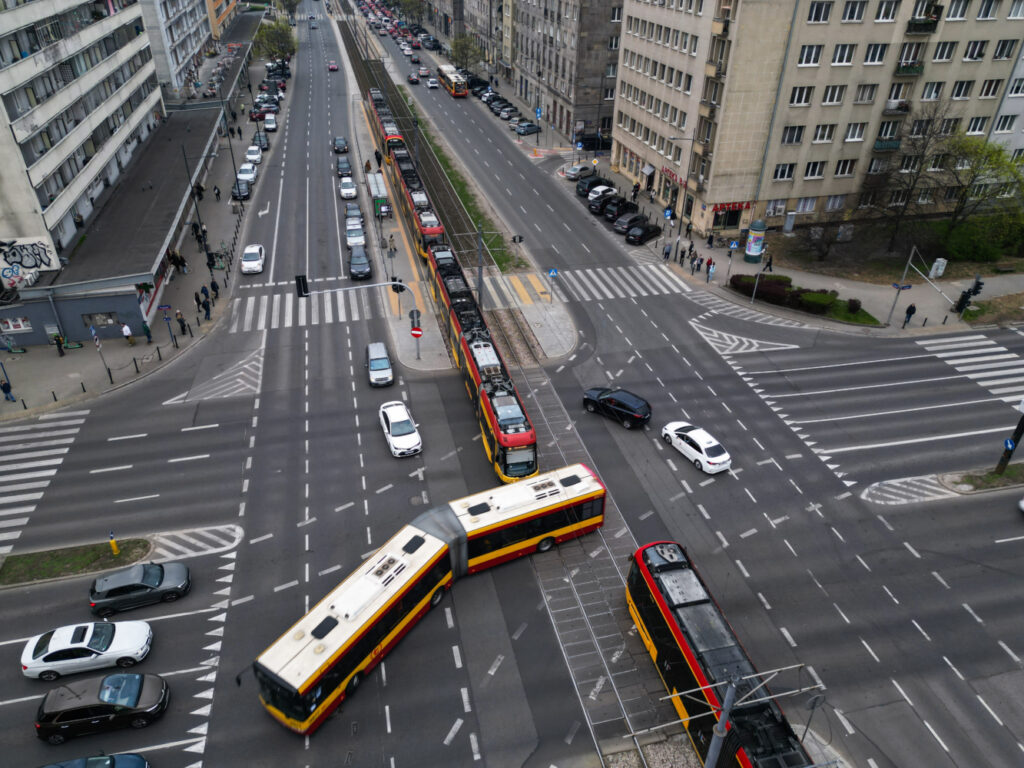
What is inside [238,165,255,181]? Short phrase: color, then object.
white car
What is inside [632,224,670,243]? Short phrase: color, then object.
black car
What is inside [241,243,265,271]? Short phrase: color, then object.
white car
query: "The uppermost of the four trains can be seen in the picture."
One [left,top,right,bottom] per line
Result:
[369,102,406,170]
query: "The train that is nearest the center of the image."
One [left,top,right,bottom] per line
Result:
[421,241,547,485]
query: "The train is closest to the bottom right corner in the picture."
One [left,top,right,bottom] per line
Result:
[620,540,824,768]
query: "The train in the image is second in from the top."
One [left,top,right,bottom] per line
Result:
[388,153,448,268]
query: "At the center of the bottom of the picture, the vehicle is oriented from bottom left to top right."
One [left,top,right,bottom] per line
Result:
[226,461,609,743]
